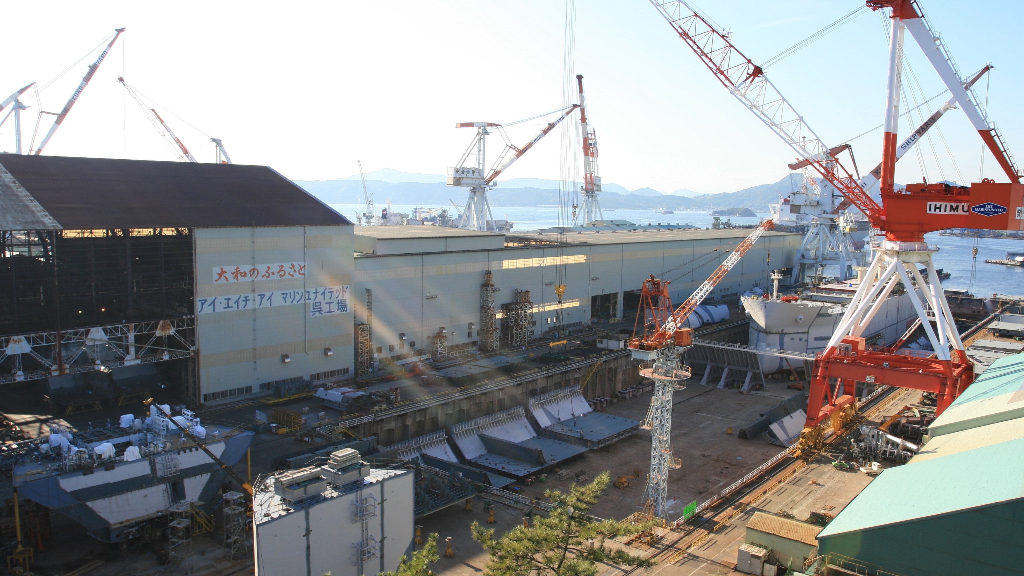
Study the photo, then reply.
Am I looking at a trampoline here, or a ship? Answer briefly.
ship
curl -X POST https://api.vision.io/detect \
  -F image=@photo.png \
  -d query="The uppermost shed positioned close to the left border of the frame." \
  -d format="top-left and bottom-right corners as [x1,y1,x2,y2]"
[0,151,357,440]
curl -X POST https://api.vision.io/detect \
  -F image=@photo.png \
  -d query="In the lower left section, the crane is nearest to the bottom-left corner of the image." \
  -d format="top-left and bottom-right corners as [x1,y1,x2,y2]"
[138,394,254,548]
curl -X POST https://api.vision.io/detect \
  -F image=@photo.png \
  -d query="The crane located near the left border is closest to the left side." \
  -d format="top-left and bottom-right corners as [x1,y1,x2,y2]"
[0,28,126,153]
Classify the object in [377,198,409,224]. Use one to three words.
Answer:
ship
